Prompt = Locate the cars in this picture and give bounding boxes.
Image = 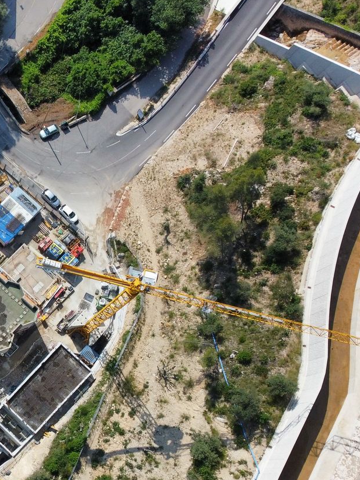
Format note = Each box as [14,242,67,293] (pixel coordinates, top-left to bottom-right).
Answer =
[37,123,61,140]
[56,202,81,227]
[38,185,62,209]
